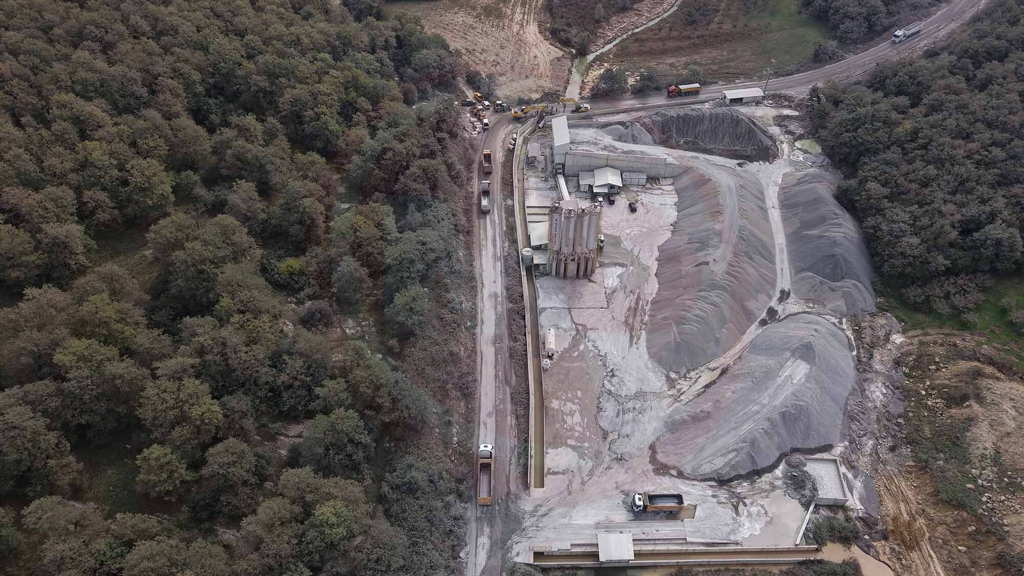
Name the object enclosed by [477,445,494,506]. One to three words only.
vehicle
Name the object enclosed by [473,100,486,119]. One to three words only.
vehicle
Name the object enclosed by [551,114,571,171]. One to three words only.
shed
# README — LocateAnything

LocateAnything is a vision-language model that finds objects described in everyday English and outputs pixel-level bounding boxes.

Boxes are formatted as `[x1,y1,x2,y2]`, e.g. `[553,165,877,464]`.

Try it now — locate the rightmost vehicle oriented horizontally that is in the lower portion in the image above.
[631,495,689,518]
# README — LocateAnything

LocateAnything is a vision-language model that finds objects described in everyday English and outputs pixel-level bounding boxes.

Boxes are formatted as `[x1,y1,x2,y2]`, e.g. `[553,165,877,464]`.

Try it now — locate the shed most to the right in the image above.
[722,88,764,106]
